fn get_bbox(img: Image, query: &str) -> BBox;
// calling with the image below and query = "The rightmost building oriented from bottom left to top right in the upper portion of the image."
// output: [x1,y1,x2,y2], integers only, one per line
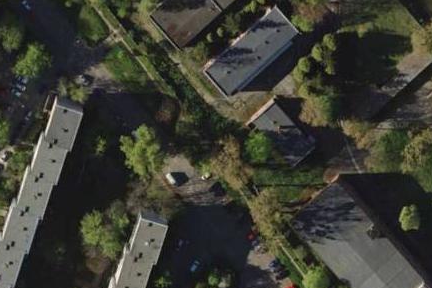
[202,2,300,97]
